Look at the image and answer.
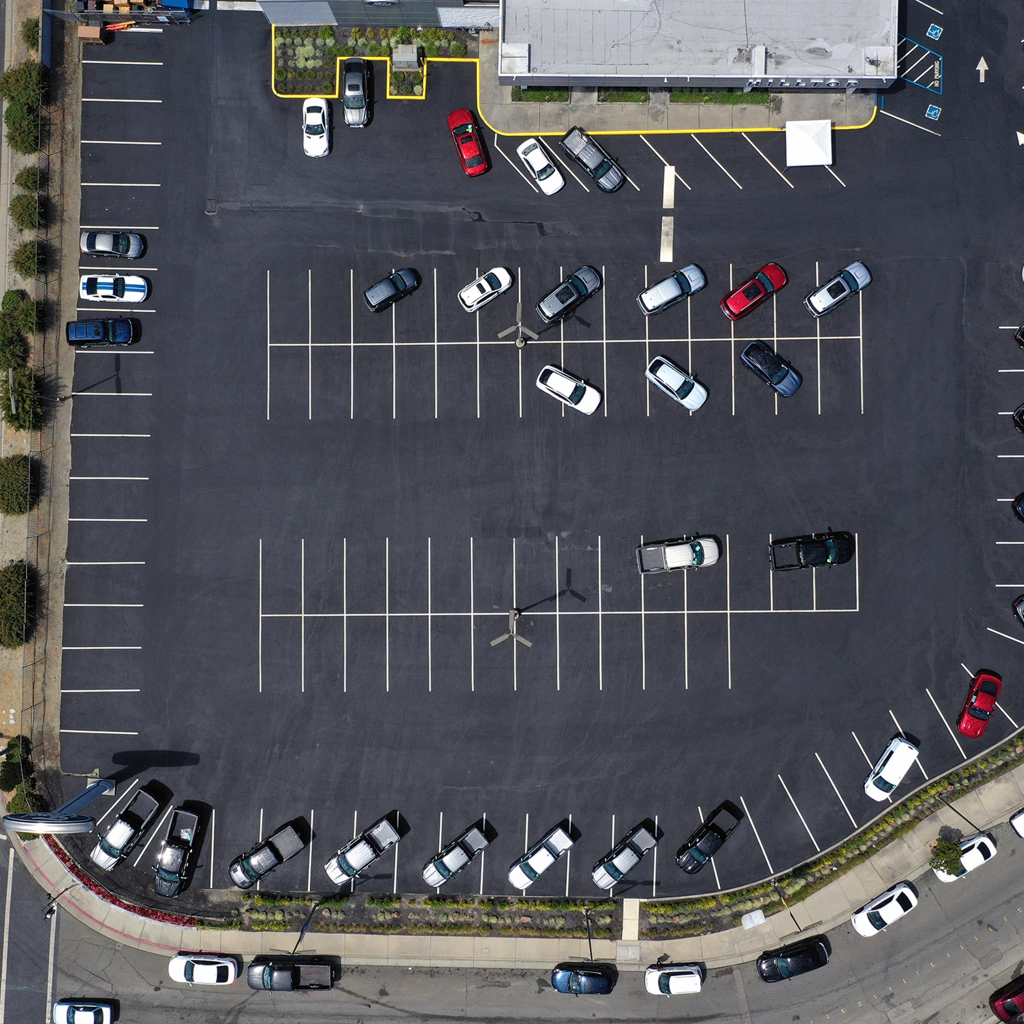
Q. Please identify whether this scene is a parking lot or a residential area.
parking lot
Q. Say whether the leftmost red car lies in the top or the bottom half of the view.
top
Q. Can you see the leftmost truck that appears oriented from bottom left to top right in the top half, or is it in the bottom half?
bottom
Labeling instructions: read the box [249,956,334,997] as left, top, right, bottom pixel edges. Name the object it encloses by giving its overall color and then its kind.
gray truck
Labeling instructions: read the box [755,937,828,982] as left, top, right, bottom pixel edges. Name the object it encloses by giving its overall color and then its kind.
black car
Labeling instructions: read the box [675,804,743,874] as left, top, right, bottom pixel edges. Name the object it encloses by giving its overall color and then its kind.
black truck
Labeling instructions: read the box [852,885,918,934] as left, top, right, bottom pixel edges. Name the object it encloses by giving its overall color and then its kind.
white car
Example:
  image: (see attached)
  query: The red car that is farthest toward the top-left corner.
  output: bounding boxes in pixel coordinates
[449,109,488,179]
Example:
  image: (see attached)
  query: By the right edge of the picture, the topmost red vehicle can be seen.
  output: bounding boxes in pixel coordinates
[957,672,1002,739]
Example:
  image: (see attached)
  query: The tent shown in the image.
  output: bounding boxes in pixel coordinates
[779,120,832,175]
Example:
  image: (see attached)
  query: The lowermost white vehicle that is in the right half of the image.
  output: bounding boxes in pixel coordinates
[643,963,702,1001]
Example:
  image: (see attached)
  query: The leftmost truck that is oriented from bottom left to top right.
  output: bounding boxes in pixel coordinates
[91,786,163,870]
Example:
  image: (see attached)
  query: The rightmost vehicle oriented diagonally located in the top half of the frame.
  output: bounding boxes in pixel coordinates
[802,262,871,322]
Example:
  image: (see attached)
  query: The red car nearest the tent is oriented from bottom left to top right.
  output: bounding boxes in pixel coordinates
[718,263,787,323]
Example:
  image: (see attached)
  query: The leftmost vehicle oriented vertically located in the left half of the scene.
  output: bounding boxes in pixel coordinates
[150,805,202,896]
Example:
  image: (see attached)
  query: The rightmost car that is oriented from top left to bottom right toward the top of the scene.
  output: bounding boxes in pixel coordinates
[738,341,799,398]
